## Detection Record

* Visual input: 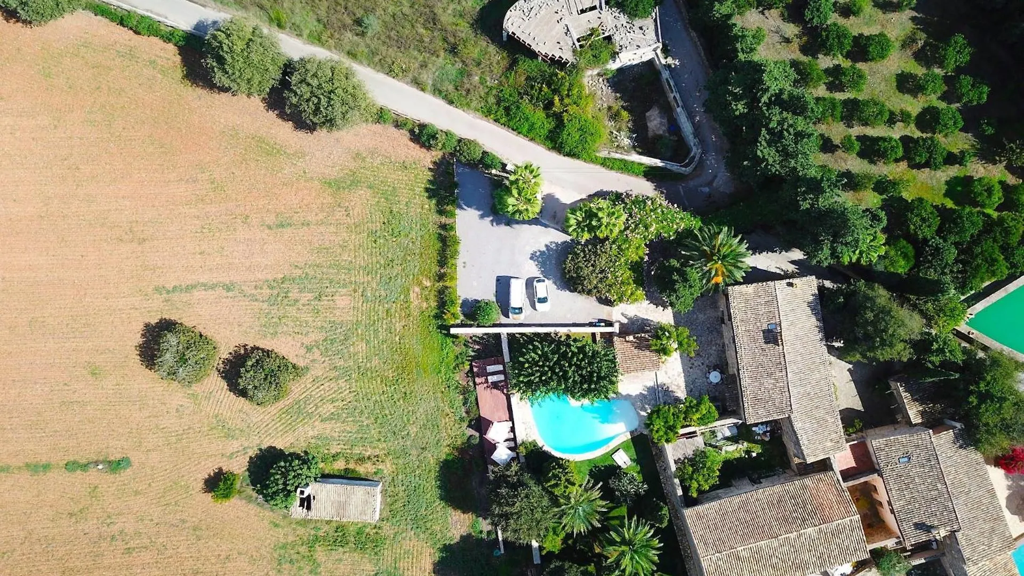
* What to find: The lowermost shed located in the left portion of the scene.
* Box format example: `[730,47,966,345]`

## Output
[291,477,384,523]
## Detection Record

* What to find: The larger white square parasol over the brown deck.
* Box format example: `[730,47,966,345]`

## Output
[485,417,514,445]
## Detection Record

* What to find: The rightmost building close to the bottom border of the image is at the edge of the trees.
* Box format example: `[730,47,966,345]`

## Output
[867,421,1024,576]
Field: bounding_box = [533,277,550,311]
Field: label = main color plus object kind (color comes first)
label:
white car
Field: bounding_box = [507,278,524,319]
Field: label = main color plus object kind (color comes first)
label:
white vehicle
